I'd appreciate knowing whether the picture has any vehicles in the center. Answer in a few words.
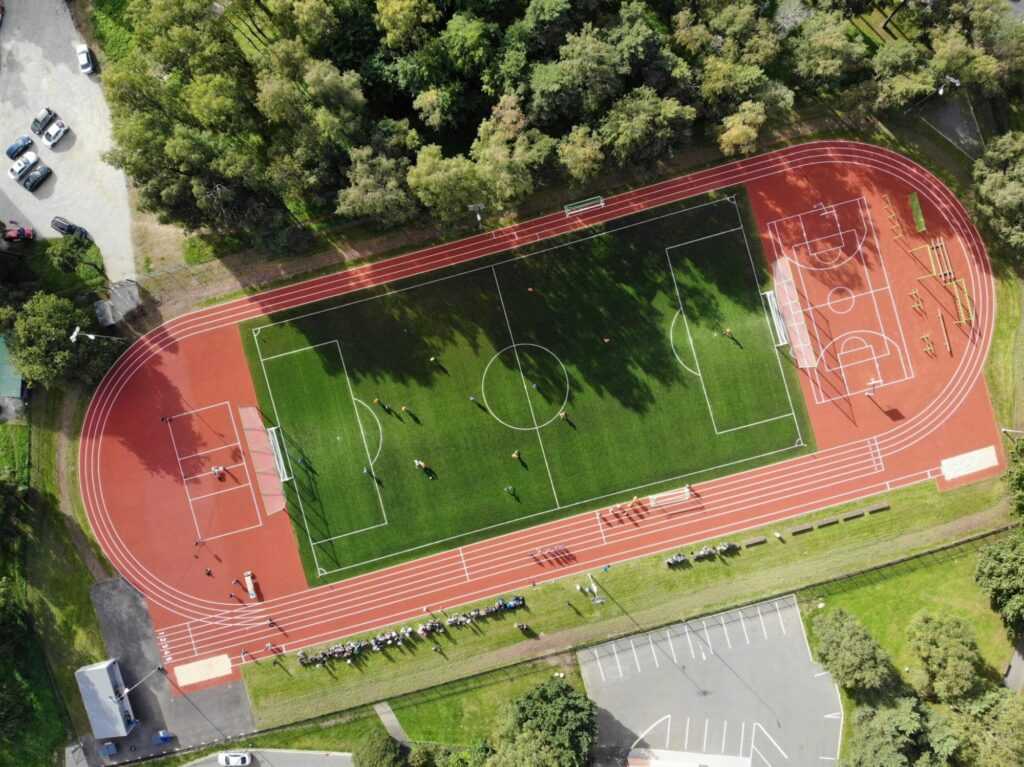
No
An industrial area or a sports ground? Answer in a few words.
sports ground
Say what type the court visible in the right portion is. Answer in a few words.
basketball court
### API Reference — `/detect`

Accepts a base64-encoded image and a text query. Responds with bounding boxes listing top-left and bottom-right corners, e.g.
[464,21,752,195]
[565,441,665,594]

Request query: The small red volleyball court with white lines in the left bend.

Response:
[168,402,262,542]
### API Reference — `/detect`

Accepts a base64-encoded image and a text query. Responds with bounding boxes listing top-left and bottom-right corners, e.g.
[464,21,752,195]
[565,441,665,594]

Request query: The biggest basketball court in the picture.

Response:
[767,196,914,404]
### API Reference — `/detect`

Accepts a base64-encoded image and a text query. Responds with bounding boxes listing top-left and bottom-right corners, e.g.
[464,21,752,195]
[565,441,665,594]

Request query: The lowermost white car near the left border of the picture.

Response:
[8,153,40,179]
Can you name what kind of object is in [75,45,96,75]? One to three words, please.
car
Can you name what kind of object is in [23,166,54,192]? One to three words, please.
car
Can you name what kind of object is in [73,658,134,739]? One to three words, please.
shed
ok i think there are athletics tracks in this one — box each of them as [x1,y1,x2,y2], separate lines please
[78,142,1005,697]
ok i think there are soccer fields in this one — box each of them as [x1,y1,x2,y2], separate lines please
[239,186,819,587]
